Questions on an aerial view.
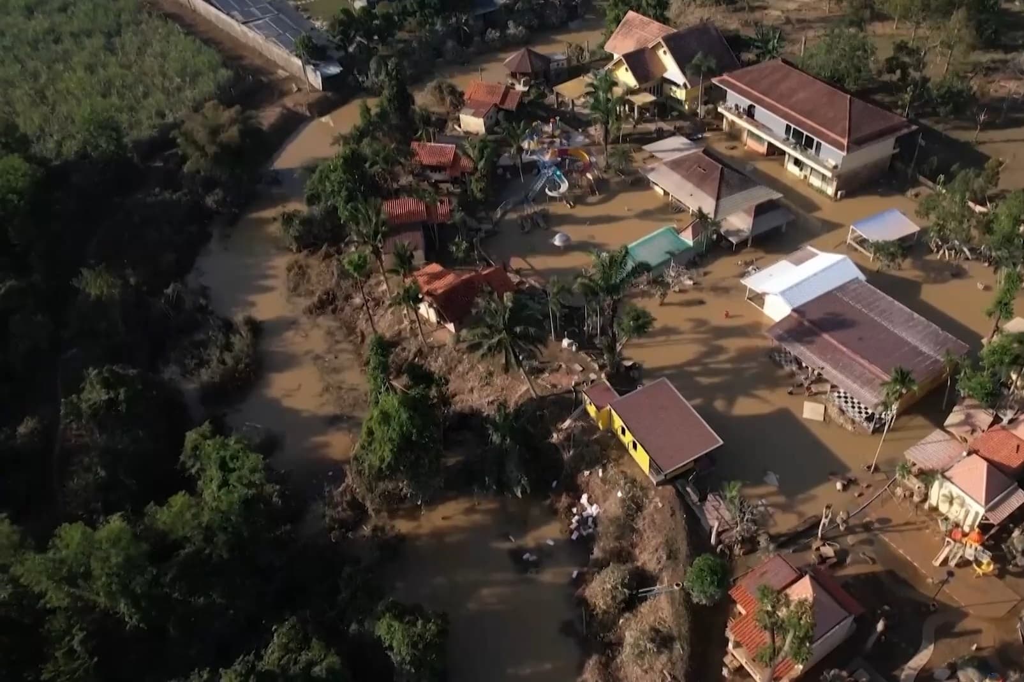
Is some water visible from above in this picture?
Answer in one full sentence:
Yes, some water is visible.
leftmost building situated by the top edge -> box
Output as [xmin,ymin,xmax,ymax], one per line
[221,0,317,82]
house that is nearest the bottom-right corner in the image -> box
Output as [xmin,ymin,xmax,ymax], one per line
[927,451,1024,548]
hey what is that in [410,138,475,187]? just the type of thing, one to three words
house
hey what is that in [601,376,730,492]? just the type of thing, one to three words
house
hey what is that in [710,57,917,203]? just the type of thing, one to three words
building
